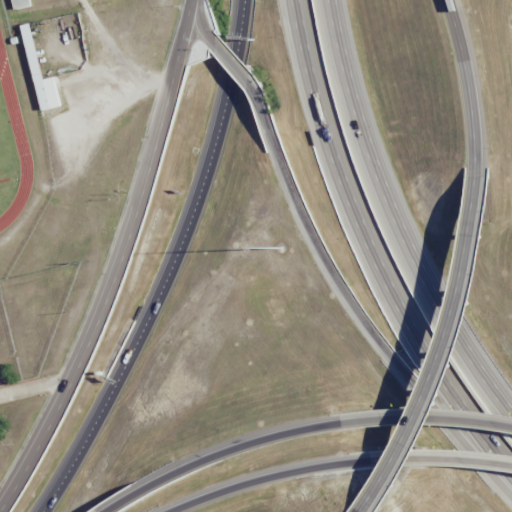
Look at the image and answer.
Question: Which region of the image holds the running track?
top left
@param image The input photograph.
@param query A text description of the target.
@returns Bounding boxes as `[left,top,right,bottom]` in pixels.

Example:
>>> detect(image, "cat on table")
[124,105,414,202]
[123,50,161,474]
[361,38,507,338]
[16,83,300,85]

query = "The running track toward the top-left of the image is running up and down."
[0,14,34,233]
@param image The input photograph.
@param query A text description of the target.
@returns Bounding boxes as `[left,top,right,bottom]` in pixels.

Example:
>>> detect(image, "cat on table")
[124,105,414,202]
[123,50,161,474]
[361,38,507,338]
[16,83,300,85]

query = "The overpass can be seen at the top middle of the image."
[208,41,284,153]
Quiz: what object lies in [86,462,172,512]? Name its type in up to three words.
overpass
